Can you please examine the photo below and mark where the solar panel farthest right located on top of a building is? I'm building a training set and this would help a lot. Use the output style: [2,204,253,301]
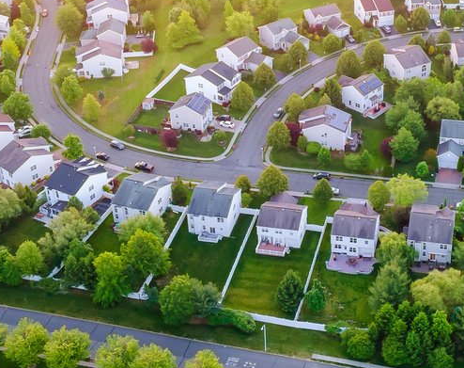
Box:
[356,76,381,98]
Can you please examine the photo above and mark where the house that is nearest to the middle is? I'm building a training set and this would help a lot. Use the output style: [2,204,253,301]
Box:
[189,185,244,236]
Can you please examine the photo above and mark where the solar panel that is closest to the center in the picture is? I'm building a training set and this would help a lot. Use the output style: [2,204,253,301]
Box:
[187,94,213,118]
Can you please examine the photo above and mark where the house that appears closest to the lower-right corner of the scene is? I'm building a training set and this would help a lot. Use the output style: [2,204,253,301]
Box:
[405,207,457,259]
